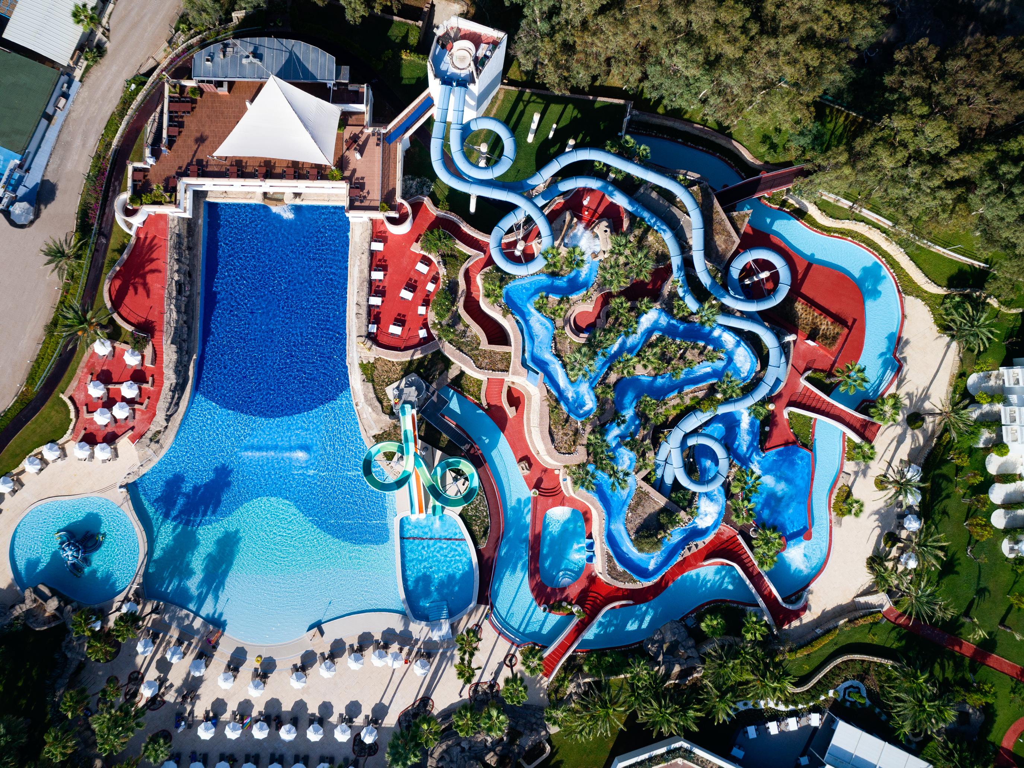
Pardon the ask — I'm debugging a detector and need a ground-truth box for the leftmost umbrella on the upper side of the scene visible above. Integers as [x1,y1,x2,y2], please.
[12,202,36,226]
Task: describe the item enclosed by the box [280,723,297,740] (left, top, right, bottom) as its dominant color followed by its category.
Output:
white umbrella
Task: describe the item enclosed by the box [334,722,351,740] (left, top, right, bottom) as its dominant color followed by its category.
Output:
white umbrella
